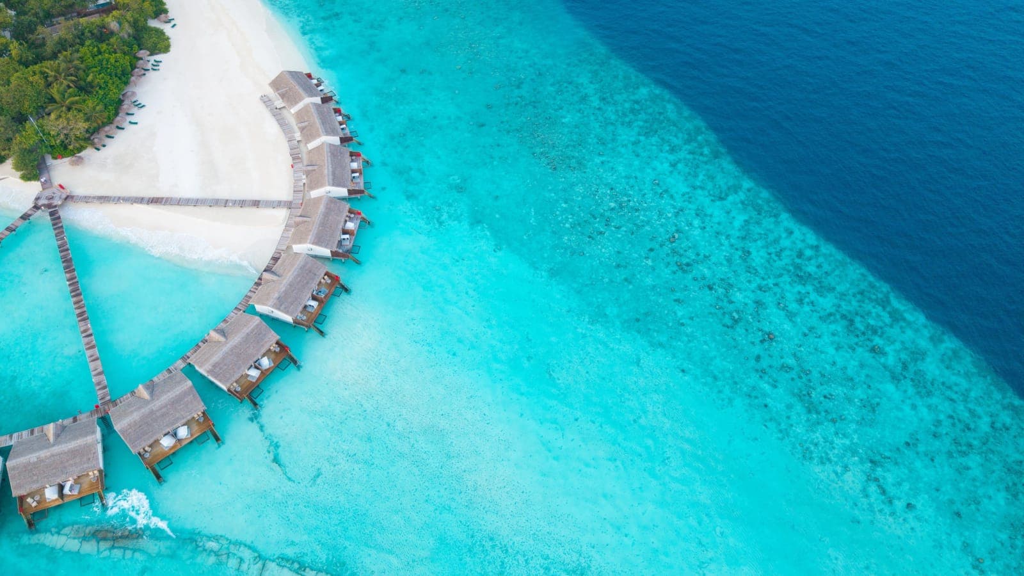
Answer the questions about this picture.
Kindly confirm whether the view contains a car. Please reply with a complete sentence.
No, I can't see a single car in this photo.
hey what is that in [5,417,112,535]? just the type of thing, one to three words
house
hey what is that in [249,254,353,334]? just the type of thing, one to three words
house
